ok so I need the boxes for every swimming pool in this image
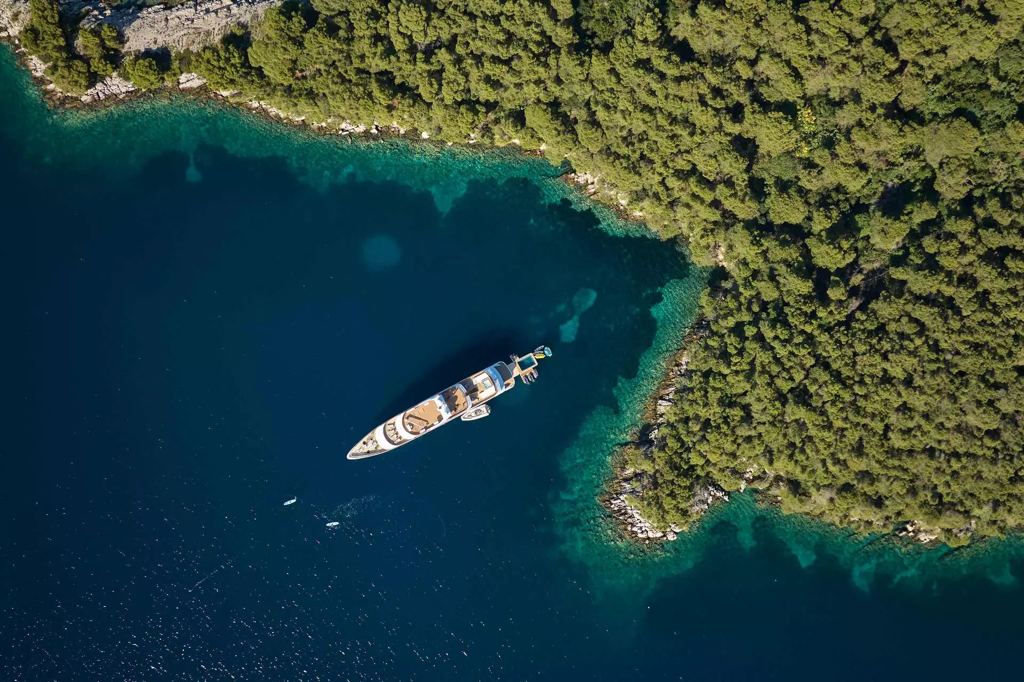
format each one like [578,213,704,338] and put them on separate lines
[515,353,537,373]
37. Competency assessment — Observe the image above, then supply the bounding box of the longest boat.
[347,362,514,459]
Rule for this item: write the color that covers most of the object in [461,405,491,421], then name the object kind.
white boat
